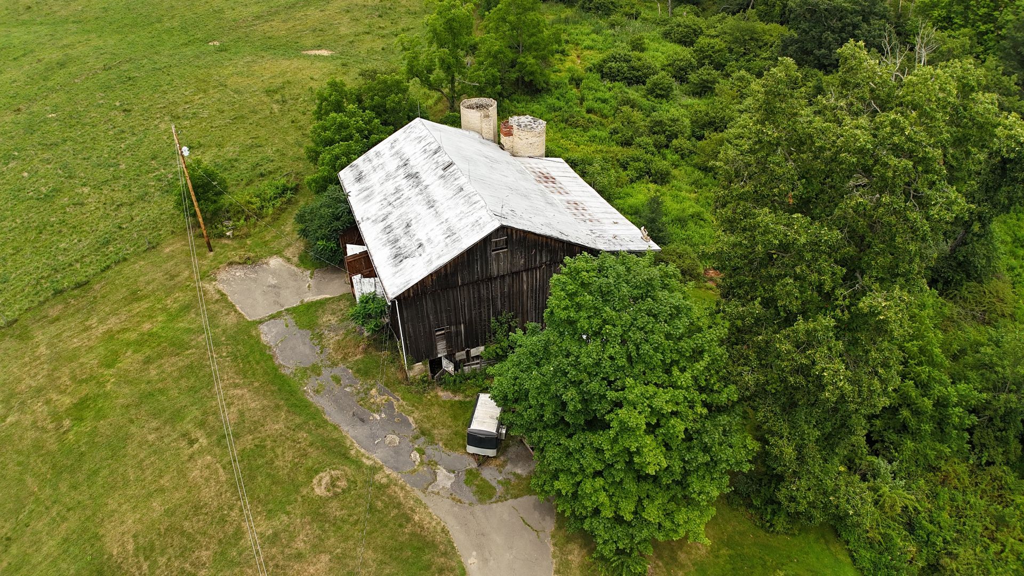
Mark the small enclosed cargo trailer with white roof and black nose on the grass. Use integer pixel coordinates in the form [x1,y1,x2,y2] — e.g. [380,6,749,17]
[467,394,505,467]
